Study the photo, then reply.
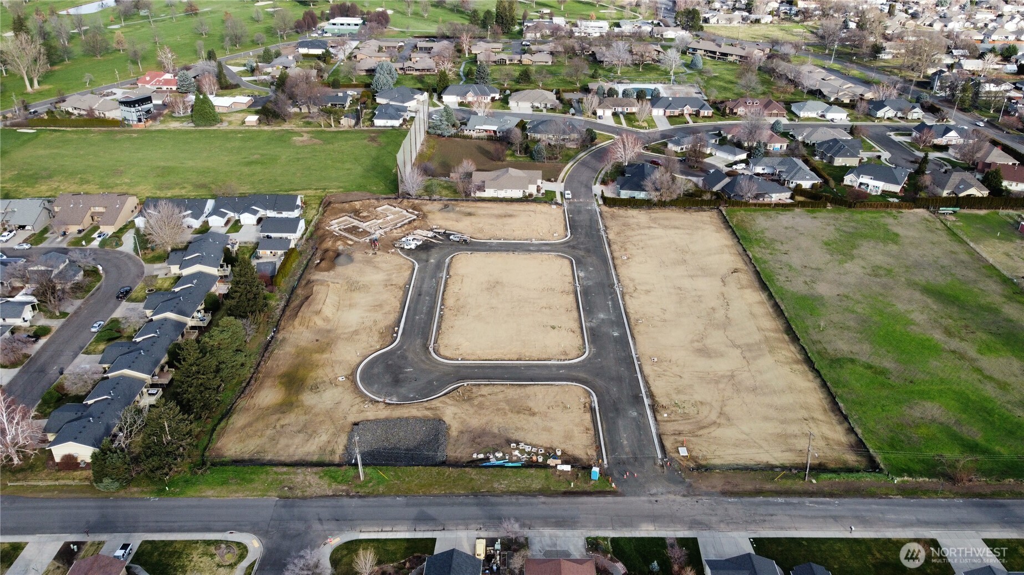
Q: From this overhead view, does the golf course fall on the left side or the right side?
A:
left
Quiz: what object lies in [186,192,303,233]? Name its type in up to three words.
house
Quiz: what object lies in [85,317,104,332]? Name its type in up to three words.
car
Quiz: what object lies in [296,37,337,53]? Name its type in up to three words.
house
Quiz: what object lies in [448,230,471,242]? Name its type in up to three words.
vehicle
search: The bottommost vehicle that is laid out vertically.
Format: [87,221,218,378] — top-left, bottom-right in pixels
[473,530,486,559]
